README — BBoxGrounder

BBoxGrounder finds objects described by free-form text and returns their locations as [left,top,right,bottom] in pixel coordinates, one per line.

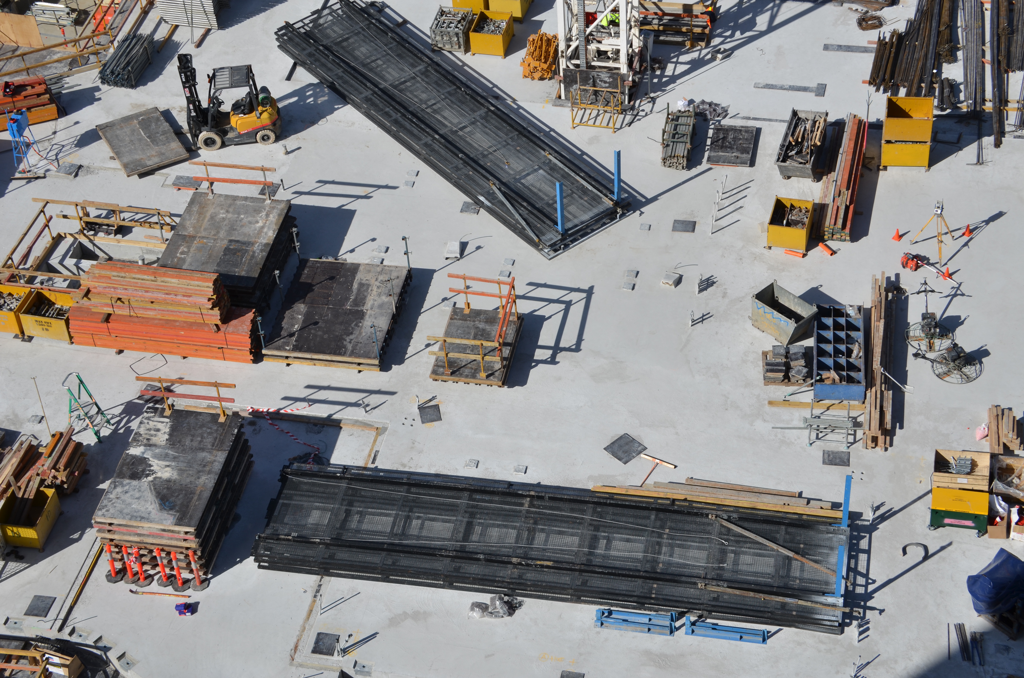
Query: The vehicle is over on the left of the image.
[175,39,281,153]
